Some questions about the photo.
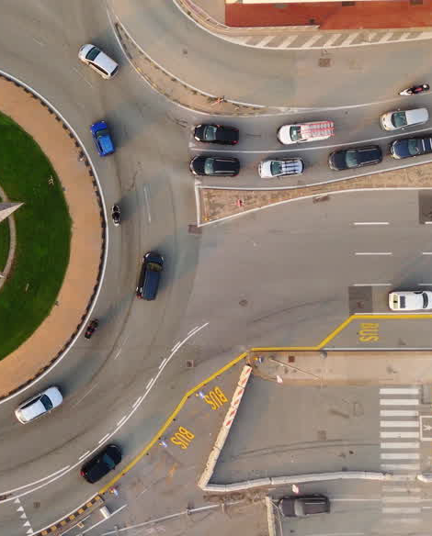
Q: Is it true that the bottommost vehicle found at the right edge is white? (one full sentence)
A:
Yes, the bottommost vehicle found at the right edge is indeed white.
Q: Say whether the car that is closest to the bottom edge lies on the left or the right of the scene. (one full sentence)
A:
The car that is closest to the bottom edge sits on the right side.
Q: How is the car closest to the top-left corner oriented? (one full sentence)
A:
The car closest to the top-left corner runs on a diagonal in the image.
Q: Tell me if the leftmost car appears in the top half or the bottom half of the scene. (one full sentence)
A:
The leftmost car sits in the bottom half of the picture.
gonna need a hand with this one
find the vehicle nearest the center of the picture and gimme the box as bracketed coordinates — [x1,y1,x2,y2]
[134,250,163,302]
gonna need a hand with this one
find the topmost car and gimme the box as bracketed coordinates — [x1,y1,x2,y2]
[77,42,119,81]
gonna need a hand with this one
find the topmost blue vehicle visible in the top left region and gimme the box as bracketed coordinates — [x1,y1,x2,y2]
[88,121,114,157]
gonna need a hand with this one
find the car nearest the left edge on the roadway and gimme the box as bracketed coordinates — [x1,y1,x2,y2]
[13,387,63,424]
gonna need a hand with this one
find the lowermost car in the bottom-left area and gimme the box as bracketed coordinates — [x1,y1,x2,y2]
[76,444,123,482]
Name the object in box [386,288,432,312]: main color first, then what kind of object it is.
white vehicle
